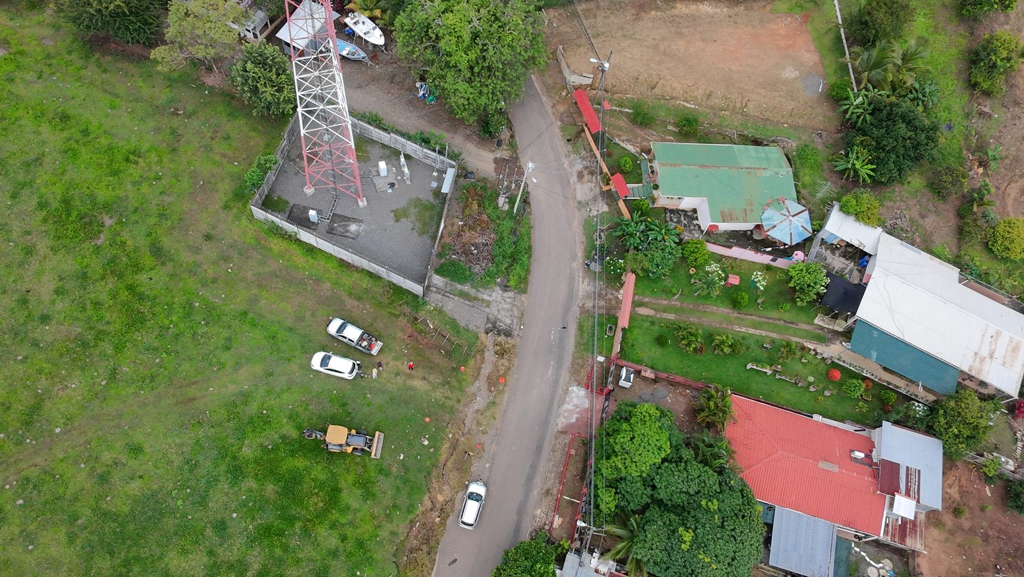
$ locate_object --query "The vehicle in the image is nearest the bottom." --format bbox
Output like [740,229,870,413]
[458,482,487,530]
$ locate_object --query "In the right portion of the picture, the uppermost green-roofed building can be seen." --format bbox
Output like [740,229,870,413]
[651,142,797,232]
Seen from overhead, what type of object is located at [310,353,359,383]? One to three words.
car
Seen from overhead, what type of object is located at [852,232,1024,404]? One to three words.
house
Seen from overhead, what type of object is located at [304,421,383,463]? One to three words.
work vehicle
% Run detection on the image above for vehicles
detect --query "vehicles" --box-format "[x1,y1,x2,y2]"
[326,319,385,358]
[304,421,383,463]
[458,482,487,530]
[310,353,359,383]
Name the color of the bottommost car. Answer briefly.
white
